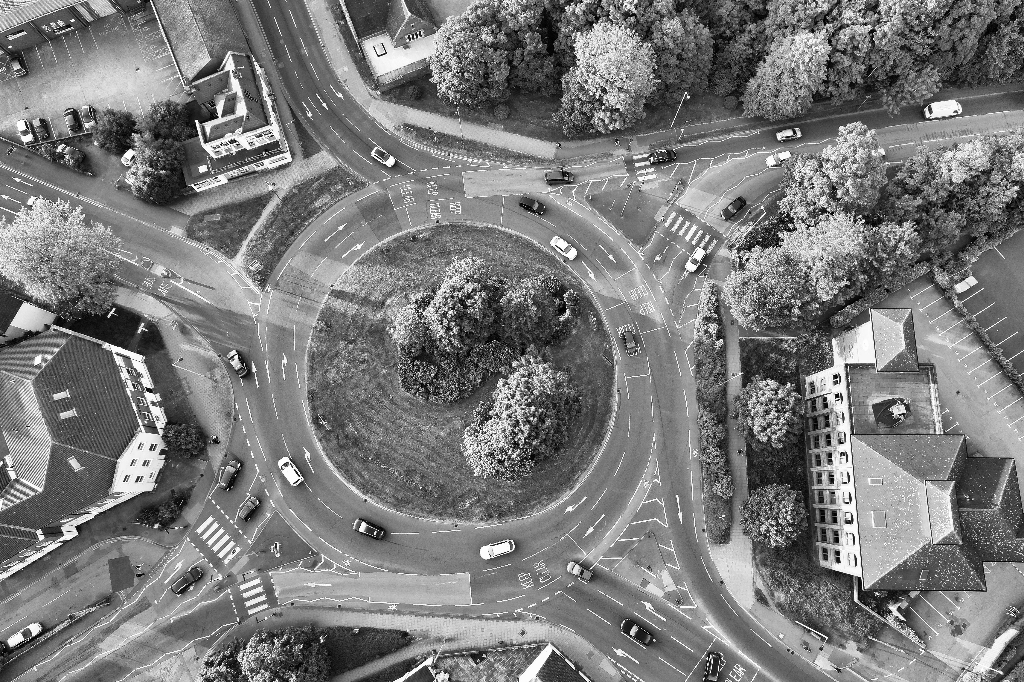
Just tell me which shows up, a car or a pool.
car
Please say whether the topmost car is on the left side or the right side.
left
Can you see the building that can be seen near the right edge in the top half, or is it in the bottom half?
bottom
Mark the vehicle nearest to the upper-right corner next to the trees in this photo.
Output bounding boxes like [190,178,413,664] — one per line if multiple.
[922,98,964,120]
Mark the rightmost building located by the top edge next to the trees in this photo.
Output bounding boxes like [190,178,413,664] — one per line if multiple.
[342,0,450,91]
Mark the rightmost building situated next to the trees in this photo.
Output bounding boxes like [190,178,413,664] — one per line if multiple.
[803,308,1024,593]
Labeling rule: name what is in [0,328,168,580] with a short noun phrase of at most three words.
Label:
building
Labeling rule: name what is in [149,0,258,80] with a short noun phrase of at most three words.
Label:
building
